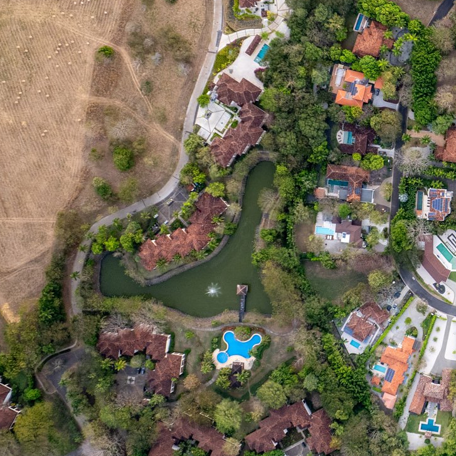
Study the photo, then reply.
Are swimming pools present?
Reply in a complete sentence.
Yes, the frame does contain a swimming pool.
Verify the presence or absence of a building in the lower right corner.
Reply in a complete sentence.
Yes, a building is visible in the lower right corner.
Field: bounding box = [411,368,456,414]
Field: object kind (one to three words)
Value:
house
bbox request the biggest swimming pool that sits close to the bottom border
[420,418,440,434]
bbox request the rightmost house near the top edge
[360,21,395,54]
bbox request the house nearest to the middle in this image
[139,185,224,269]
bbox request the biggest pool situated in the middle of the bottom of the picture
[223,330,262,360]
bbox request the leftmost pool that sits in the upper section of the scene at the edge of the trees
[254,43,270,63]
